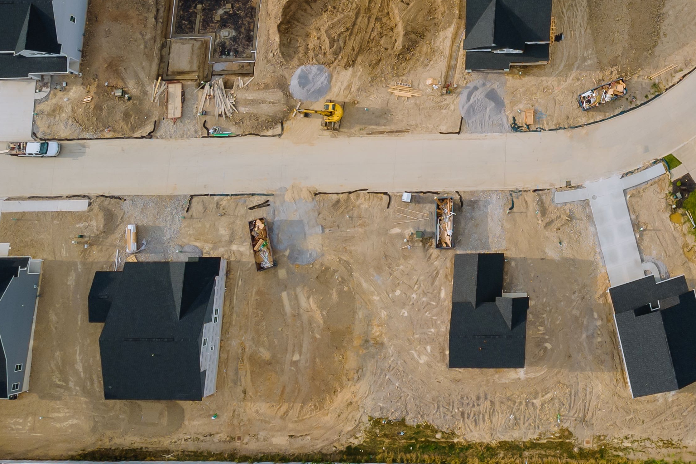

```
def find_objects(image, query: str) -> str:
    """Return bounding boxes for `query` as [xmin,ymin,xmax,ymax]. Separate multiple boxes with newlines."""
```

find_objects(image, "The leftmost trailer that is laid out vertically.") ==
[161,78,185,125]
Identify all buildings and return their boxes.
[0,0,88,80]
[463,0,553,72]
[85,257,232,401]
[608,275,696,398]
[449,253,529,368]
[0,257,43,398]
